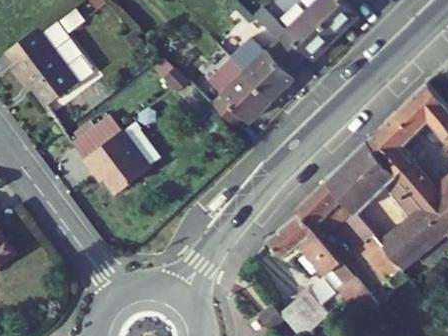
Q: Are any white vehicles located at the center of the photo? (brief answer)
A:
Yes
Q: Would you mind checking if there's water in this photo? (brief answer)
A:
No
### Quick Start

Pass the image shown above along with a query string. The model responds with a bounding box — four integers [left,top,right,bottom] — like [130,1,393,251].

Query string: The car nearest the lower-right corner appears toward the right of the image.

[298,162,319,184]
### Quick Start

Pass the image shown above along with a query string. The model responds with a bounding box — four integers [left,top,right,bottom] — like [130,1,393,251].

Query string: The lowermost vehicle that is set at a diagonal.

[232,205,253,226]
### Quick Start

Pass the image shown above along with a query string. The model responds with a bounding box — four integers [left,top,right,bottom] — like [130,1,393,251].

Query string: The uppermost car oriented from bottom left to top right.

[362,42,382,62]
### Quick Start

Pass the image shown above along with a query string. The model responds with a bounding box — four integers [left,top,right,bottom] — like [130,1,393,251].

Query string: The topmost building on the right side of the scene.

[251,0,359,60]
